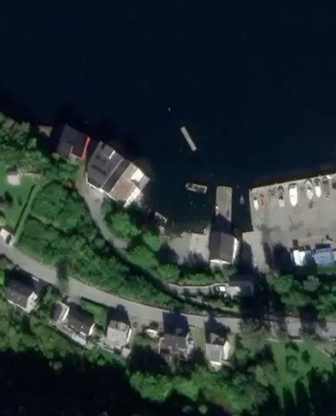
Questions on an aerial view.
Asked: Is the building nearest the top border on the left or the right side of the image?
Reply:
left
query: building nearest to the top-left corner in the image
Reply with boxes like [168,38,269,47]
[59,124,92,159]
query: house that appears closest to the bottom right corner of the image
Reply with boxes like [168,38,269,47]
[203,336,228,364]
